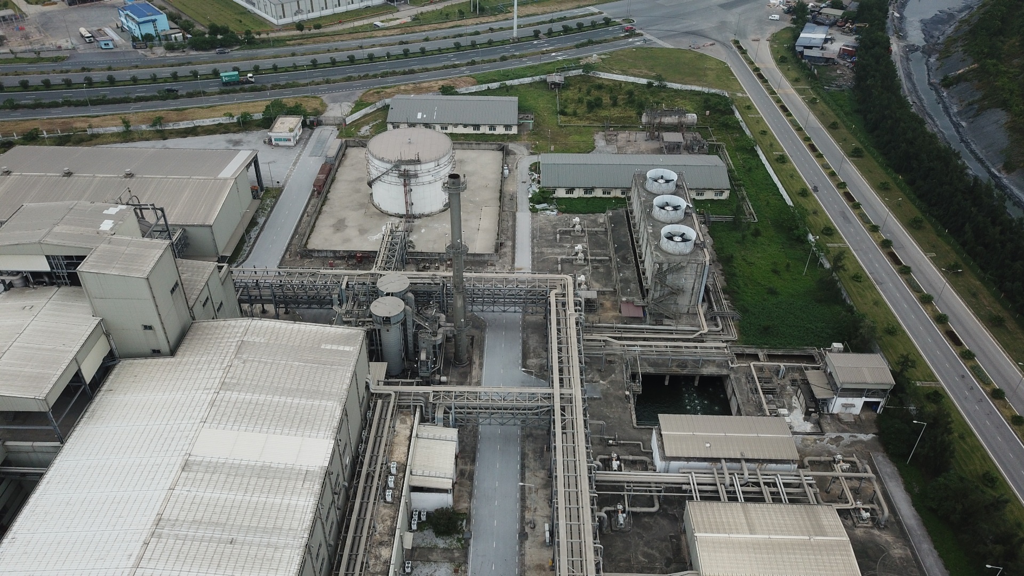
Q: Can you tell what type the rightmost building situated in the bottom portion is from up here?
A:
house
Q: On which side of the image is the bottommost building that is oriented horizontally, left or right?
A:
right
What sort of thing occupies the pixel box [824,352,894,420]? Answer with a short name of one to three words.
house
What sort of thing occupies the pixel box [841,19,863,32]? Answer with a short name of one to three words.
vehicle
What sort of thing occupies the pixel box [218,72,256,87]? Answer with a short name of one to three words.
vehicle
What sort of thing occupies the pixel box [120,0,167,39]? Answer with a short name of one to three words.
building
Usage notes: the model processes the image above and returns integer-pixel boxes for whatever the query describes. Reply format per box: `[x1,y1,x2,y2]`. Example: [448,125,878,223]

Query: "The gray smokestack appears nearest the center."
[443,171,473,370]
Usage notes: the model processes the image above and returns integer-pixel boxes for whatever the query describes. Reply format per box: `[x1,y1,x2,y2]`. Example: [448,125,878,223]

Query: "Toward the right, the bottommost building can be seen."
[682,499,863,576]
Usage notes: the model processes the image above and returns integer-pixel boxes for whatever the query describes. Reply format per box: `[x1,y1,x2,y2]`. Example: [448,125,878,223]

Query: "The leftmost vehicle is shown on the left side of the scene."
[78,28,92,43]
